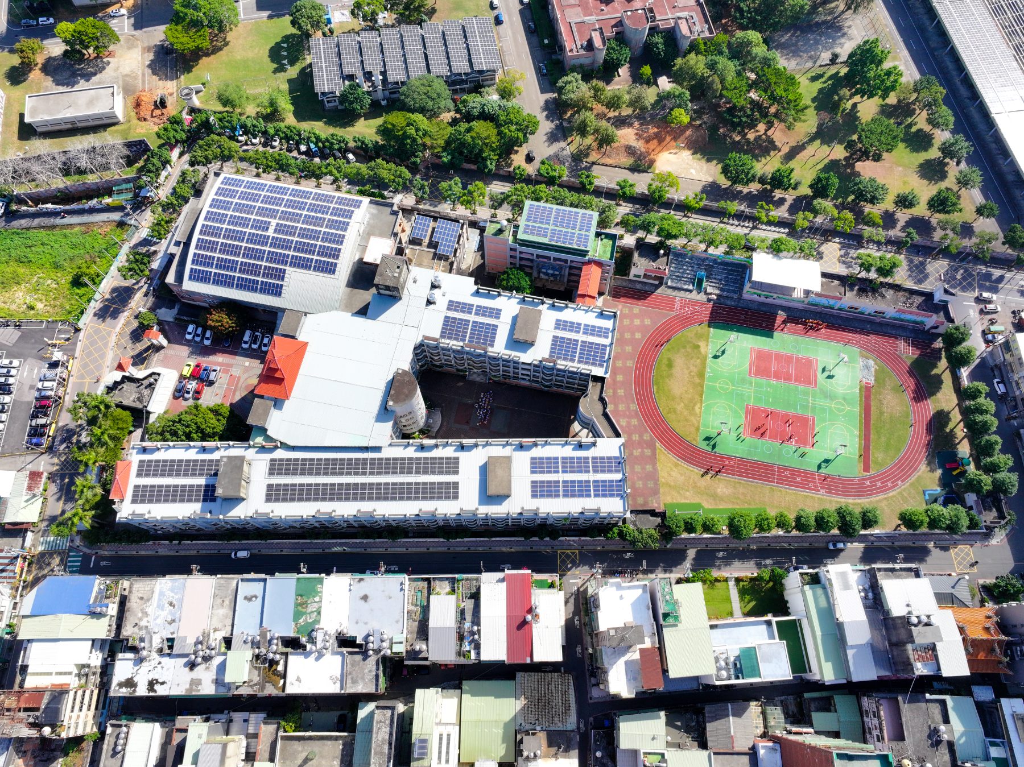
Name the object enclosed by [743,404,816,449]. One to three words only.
sports court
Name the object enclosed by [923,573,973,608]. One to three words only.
house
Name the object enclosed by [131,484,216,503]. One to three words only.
solar array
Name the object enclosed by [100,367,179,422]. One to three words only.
building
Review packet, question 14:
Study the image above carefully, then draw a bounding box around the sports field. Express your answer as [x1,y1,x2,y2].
[654,301,987,536]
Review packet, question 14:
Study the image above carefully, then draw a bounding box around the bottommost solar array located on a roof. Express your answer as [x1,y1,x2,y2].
[414,739,428,757]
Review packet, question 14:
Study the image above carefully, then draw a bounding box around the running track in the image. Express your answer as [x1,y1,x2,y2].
[633,304,933,498]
